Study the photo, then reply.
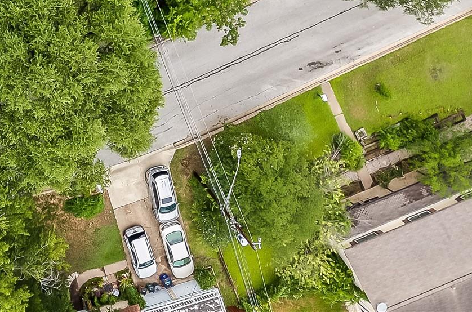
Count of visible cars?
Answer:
3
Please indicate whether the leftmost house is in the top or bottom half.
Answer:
bottom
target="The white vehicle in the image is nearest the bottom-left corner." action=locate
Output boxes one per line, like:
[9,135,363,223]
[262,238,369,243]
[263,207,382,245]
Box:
[123,225,161,286]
